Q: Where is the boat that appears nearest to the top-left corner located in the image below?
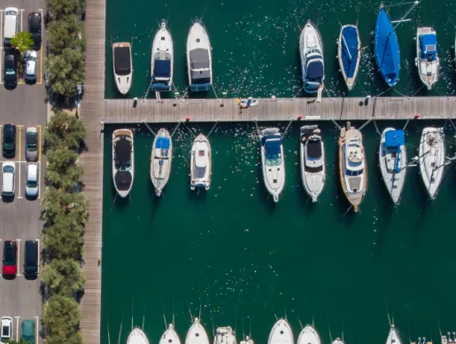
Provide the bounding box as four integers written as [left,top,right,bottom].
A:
[111,33,134,97]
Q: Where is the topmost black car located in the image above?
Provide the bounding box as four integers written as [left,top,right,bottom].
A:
[28,12,43,51]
